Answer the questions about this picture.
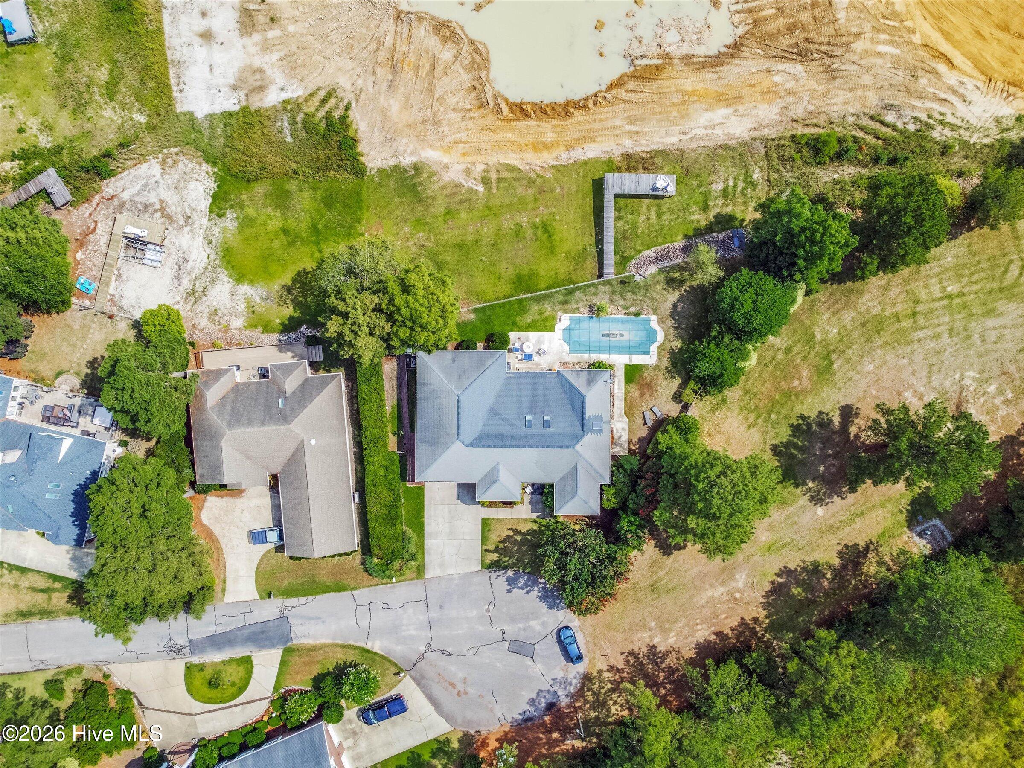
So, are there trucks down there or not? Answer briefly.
Yes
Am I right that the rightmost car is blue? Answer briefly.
Yes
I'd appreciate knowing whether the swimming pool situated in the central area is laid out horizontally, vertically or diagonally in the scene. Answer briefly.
horizontally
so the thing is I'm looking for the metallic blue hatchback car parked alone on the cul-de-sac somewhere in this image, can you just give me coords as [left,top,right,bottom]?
[559,627,587,672]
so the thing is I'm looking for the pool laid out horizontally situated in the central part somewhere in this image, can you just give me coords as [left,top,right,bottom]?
[561,315,659,356]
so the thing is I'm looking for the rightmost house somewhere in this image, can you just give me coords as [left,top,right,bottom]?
[415,350,611,516]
